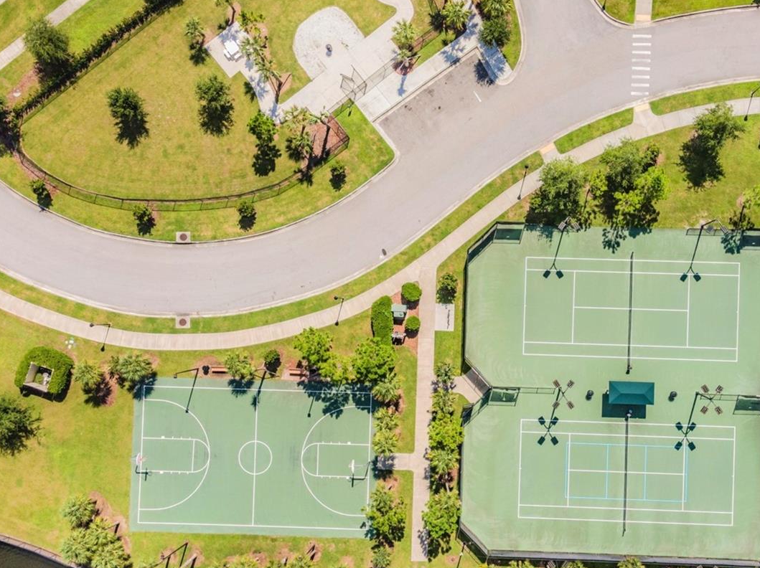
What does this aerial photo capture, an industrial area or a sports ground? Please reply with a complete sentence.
The picture captures a sports ground.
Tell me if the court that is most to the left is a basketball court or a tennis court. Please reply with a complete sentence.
It looks like the court that is most to the left is a basketball court.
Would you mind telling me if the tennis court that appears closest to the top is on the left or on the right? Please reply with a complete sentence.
The tennis court that appears closest to the top is on the right side of the image.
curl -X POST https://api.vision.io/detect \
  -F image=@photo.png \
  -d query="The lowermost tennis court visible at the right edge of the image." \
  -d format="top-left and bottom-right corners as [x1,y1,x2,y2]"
[461,390,760,561]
